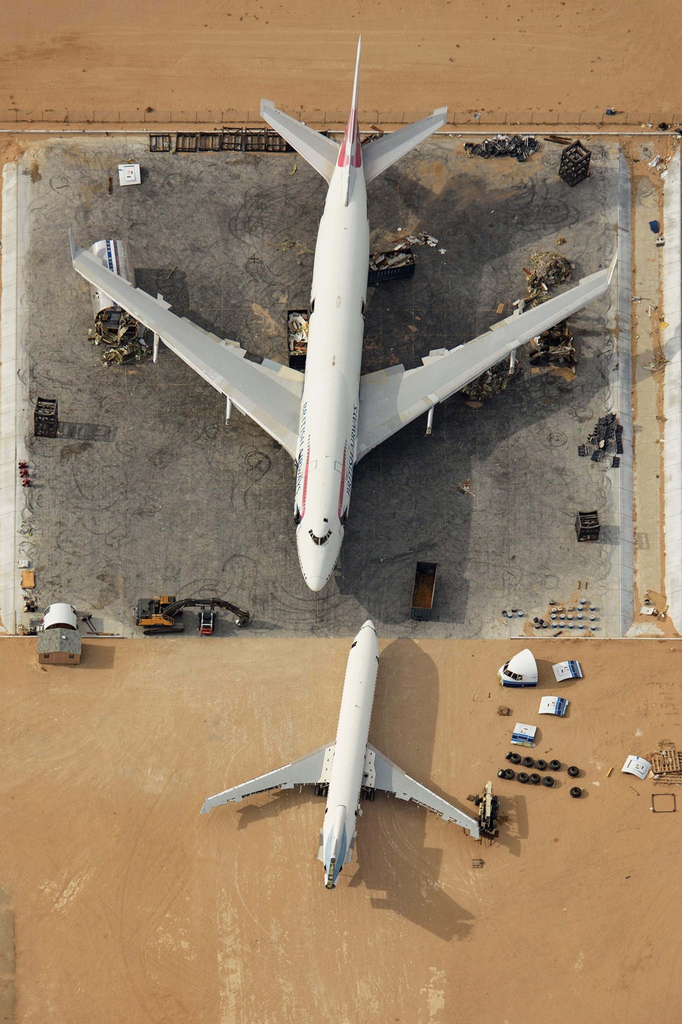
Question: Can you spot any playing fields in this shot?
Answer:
No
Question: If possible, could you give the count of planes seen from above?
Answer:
2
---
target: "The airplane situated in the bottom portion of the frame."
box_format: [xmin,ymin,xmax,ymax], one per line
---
[196,620,485,892]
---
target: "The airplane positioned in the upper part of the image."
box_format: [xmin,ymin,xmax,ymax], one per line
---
[69,38,618,590]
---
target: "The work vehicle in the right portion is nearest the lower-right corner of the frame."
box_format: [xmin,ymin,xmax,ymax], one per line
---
[475,781,500,845]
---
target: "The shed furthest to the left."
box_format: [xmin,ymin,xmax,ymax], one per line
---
[37,624,82,664]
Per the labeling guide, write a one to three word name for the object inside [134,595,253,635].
work vehicle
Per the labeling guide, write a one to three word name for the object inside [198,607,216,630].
work vehicle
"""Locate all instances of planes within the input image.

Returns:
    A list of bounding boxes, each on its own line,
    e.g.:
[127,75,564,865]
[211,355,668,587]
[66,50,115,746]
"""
[196,620,485,892]
[69,38,618,590]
